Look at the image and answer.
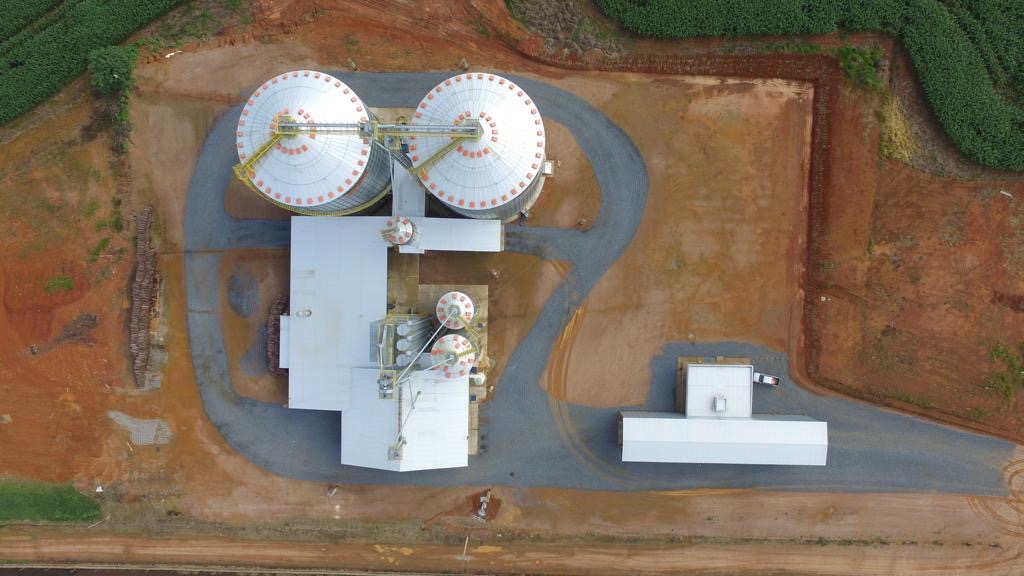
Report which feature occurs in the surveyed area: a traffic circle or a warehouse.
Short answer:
warehouse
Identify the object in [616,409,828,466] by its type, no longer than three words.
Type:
shed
